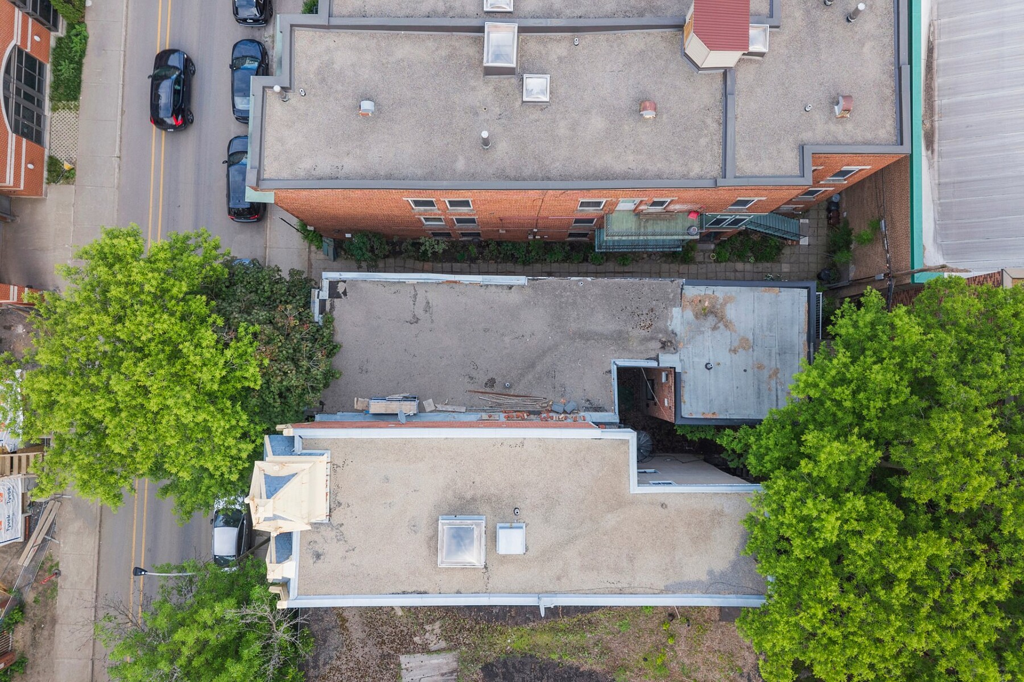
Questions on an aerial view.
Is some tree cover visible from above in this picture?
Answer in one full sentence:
Yes, tree cover can be seen from above here.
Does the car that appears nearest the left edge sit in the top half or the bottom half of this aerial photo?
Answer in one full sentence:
Seen from above, the car that appears nearest the left edge lies in the top half of the view.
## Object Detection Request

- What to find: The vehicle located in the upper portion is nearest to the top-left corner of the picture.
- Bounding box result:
[148,50,194,127]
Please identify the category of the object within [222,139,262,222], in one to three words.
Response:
car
